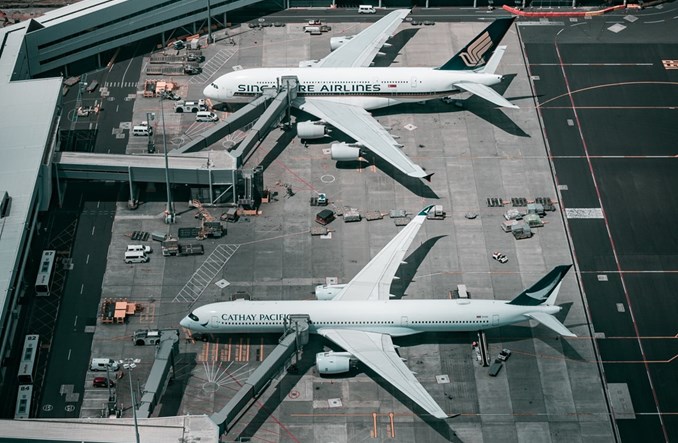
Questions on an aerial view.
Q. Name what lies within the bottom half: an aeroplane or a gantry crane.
aeroplane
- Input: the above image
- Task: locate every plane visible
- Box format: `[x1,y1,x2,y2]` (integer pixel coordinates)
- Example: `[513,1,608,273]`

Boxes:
[179,205,577,417]
[203,3,522,179]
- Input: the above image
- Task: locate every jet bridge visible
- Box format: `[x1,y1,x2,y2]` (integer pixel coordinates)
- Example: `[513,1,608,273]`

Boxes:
[215,317,312,443]
[166,88,278,152]
[123,334,186,418]
[229,75,303,199]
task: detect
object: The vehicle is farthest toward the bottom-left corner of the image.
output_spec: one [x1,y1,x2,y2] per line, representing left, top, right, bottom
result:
[11,387,33,418]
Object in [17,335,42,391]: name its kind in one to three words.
bus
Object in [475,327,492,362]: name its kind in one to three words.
work vehicle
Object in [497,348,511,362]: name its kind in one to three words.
vehicle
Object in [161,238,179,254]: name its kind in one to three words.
vehicle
